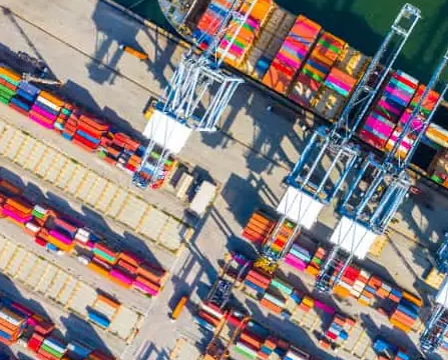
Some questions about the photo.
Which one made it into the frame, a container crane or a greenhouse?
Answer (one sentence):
Of the two, only a container crane appears.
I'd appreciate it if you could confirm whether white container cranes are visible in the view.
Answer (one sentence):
Yes, this view includes a white container crane.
